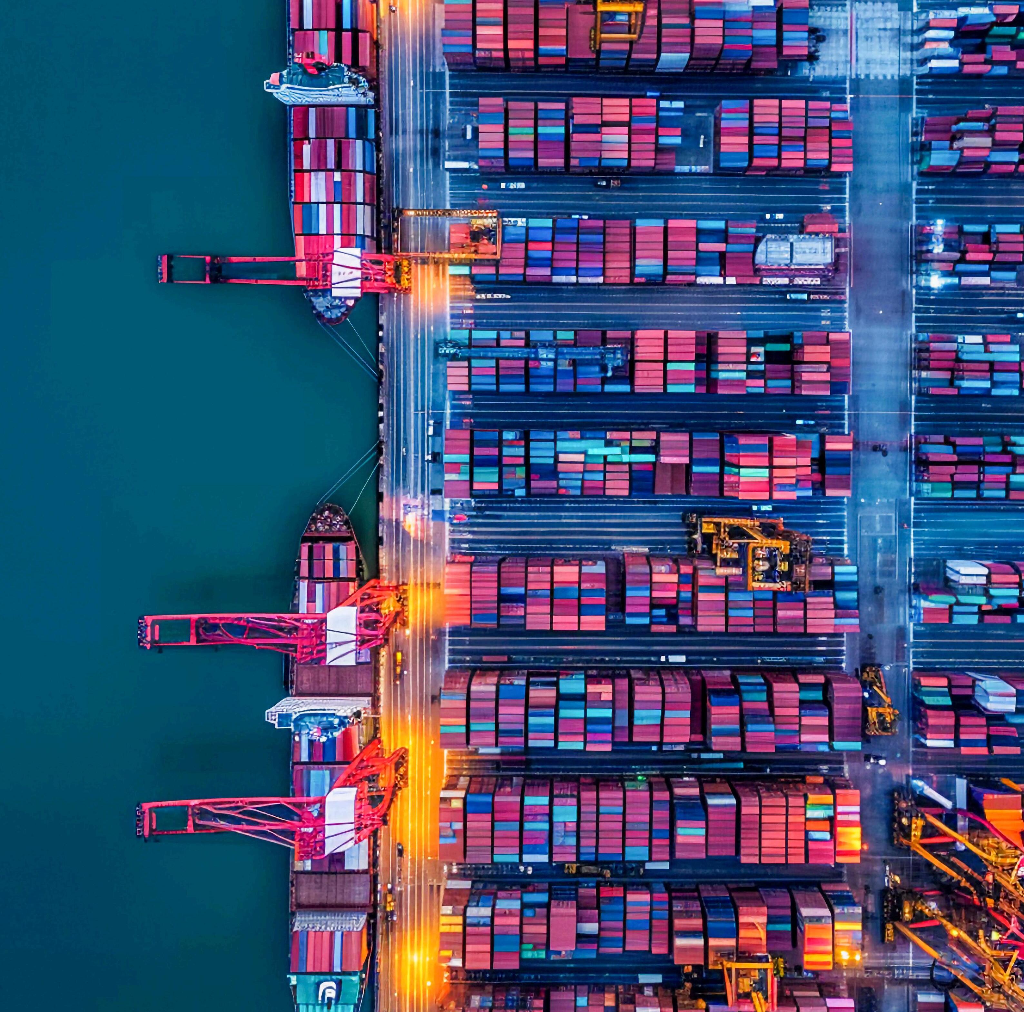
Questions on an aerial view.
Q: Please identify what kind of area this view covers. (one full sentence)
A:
The area seen from above is a port.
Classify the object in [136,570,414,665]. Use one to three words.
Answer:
container crane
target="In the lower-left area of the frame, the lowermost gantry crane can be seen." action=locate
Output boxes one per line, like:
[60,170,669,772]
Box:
[134,733,414,857]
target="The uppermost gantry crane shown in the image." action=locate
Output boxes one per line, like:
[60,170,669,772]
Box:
[595,1,643,63]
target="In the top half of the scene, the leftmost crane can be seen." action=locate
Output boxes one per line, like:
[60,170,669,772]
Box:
[156,242,414,317]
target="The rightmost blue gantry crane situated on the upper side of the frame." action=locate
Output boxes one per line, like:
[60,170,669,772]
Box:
[438,342,629,376]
